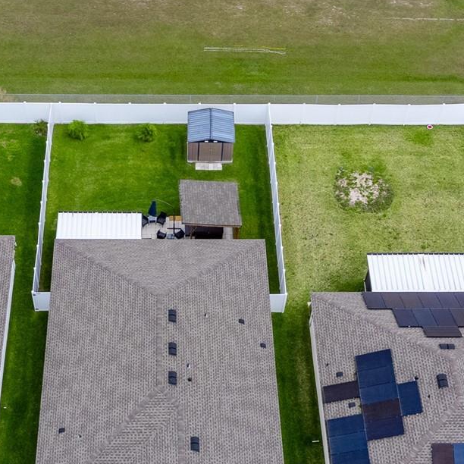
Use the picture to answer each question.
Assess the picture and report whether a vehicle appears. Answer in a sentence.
No, no vehicle is visible in the view.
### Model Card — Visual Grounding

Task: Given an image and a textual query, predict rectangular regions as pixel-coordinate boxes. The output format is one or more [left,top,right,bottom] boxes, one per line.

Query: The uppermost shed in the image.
[186,107,237,162]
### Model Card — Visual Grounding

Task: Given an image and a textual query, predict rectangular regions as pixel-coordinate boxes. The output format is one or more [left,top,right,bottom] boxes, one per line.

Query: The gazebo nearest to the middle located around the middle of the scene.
[178,179,244,239]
